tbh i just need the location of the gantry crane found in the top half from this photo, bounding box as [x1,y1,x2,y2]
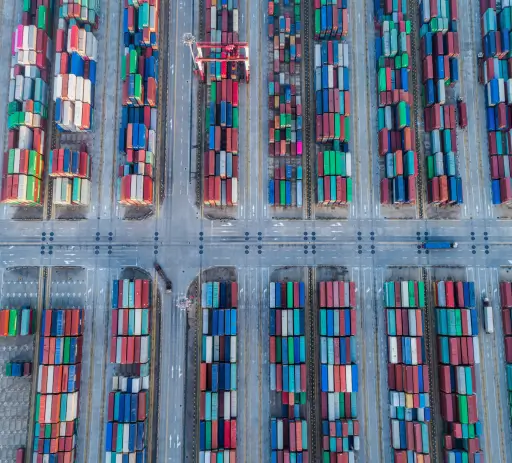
[197,40,250,82]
